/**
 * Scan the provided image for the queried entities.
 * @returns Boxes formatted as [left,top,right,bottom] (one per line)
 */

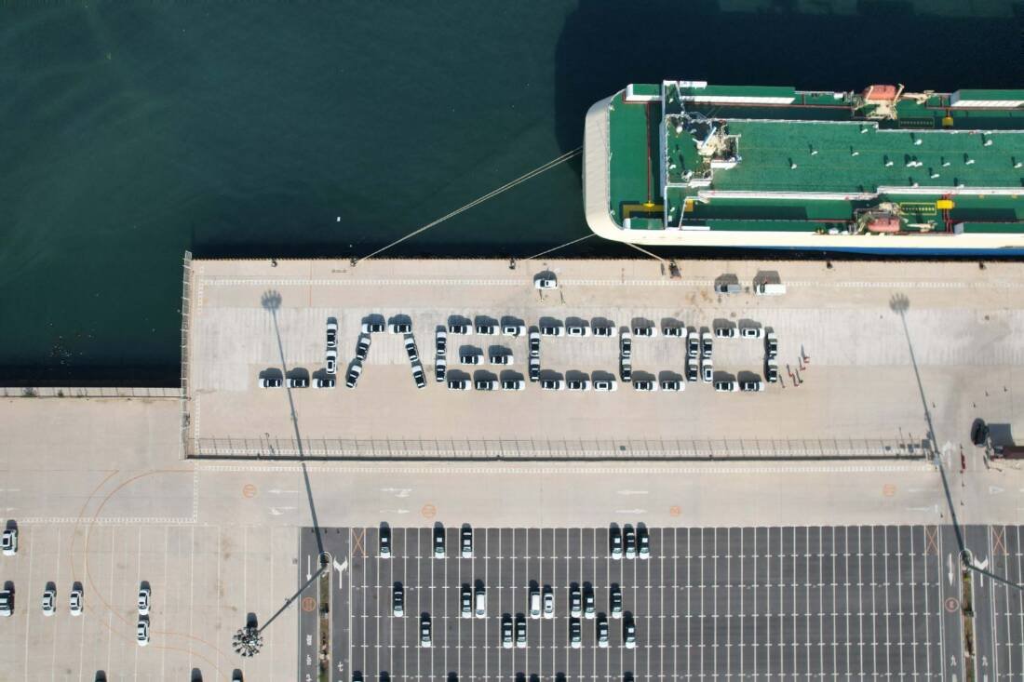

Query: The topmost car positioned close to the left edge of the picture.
[2,530,18,554]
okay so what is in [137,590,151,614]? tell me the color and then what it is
white car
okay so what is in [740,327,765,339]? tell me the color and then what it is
white vehicle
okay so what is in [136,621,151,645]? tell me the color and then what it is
white car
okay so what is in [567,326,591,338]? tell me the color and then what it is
white vehicle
